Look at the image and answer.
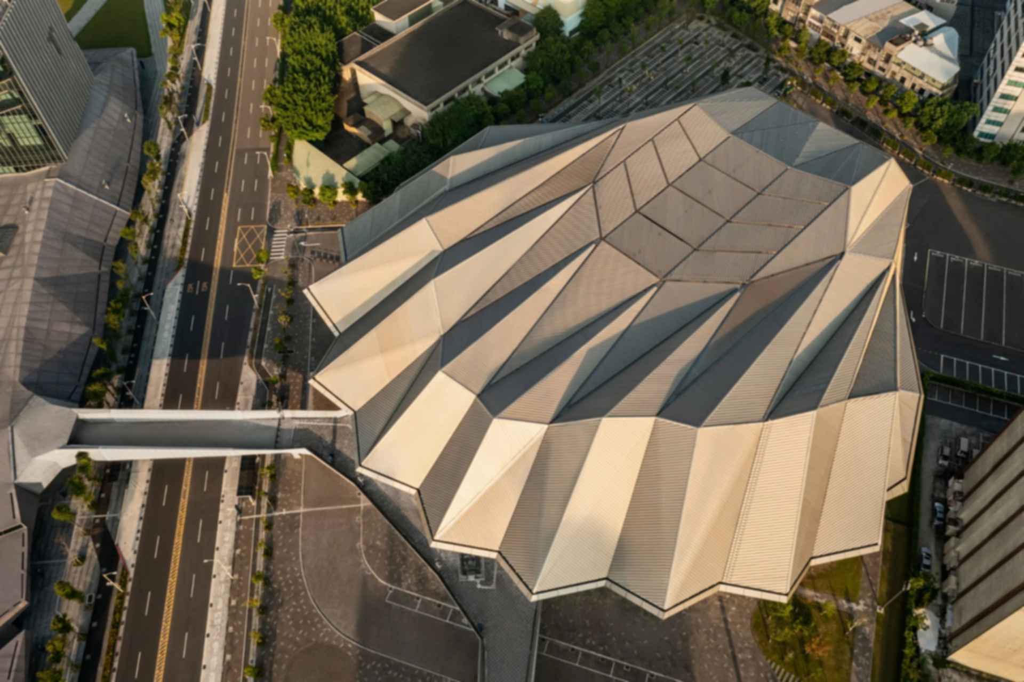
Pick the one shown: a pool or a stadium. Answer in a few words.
stadium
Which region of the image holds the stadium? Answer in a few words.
center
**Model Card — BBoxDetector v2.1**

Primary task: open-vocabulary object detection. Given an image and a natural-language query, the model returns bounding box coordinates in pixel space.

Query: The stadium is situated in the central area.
[299,85,925,622]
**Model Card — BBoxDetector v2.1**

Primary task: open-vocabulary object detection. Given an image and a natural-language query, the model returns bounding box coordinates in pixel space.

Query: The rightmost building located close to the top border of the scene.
[967,19,1024,148]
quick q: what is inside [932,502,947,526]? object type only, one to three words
car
